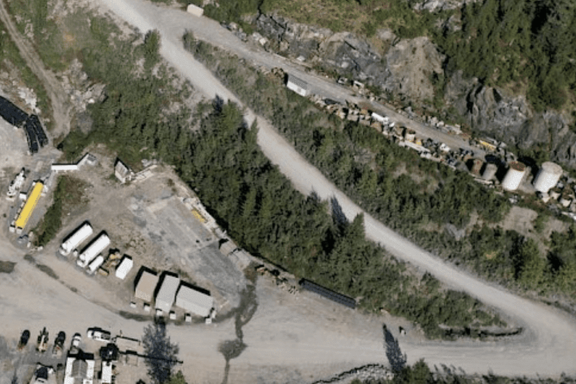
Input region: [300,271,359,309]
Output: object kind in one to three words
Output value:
shipping container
